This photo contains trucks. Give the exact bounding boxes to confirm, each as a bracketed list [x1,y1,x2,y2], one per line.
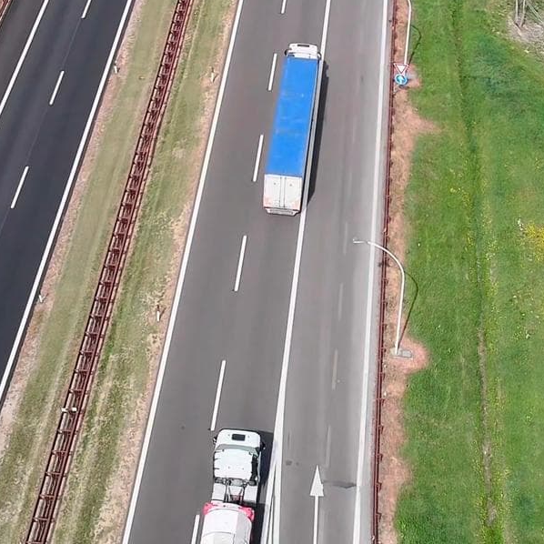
[198,428,265,544]
[264,43,323,214]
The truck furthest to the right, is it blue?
Yes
